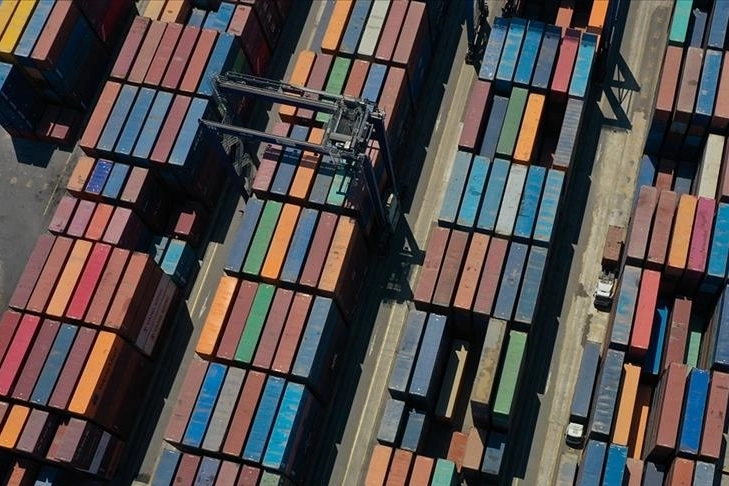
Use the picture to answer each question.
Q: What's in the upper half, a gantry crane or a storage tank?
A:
gantry crane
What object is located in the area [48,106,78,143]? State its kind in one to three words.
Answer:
shipping container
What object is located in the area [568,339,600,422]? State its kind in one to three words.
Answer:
shipping container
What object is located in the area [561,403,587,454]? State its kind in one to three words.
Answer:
truck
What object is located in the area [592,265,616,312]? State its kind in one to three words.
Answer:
truck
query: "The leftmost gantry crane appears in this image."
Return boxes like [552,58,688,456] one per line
[196,74,406,246]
